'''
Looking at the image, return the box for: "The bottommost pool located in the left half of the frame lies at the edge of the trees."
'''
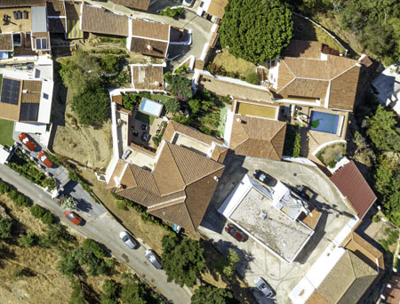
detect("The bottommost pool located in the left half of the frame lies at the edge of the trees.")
[138,98,165,120]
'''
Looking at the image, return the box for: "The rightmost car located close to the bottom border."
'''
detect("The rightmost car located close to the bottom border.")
[256,277,272,296]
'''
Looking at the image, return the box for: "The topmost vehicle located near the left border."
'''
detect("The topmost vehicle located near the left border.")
[19,134,37,150]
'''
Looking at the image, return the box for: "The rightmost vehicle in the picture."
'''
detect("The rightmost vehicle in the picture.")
[295,184,314,202]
